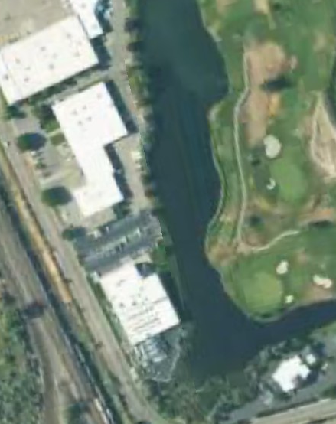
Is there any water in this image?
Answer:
Yes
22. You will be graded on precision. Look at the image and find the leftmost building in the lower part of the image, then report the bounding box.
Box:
[99,261,179,346]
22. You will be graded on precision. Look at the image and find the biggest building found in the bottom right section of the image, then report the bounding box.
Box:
[274,356,310,393]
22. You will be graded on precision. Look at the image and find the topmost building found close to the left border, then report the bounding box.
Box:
[0,16,98,104]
